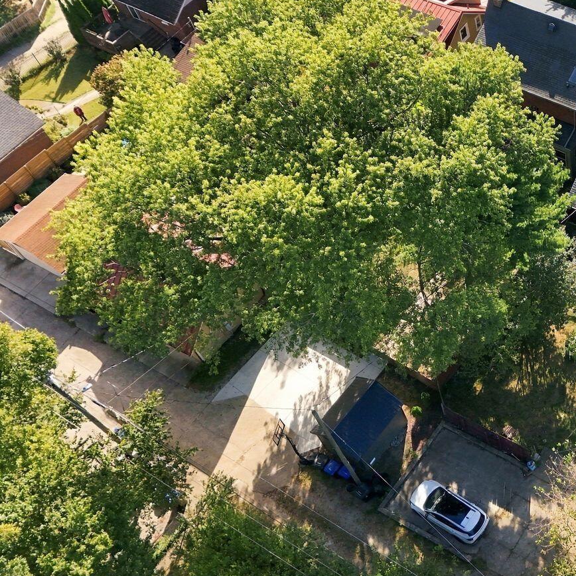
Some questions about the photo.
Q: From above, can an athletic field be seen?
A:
No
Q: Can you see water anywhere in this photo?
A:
No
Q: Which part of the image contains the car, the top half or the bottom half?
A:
bottom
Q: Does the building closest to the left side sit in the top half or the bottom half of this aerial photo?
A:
top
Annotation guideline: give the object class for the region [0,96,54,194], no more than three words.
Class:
building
